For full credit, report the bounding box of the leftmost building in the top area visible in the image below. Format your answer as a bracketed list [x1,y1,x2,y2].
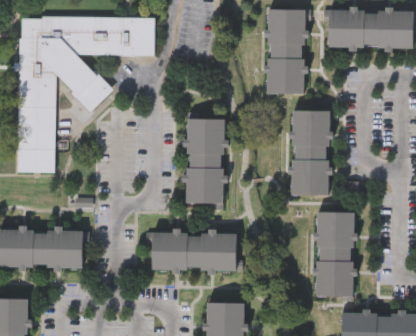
[14,16,156,174]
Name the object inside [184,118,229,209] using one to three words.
building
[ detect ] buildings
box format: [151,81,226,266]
[184,118,229,209]
[204,302,249,336]
[151,228,243,274]
[0,226,90,270]
[0,298,32,336]
[14,16,156,174]
[326,6,416,51]
[76,194,95,208]
[314,211,359,300]
[265,7,312,93]
[342,310,416,336]
[289,109,334,195]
